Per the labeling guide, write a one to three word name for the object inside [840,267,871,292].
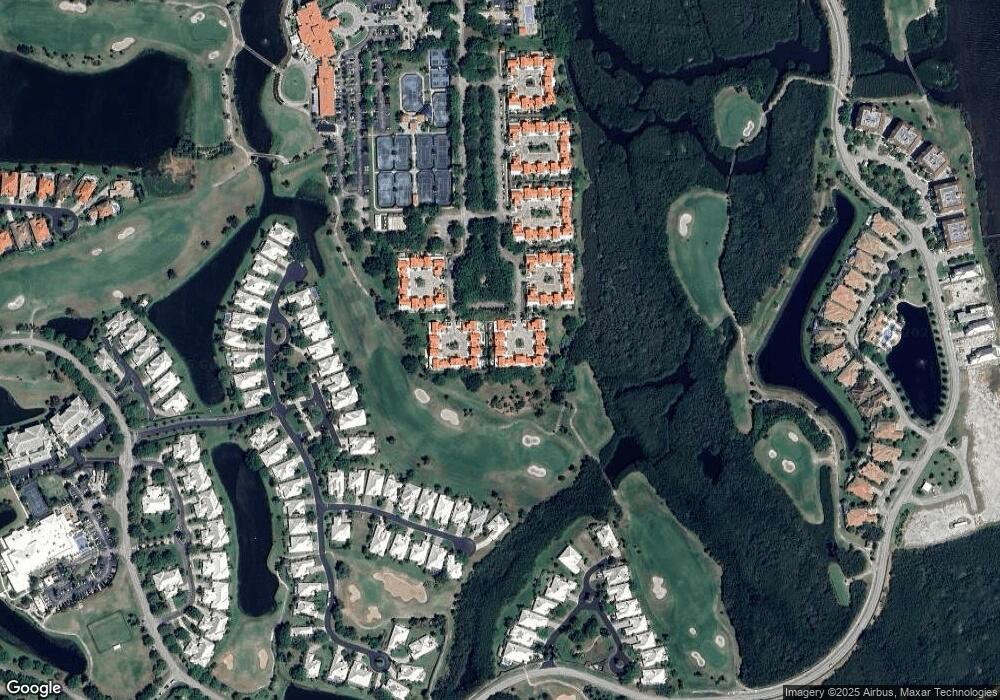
house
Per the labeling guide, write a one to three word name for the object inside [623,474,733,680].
golf course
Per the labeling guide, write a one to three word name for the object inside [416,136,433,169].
tennis court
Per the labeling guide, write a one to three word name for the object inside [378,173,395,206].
tennis court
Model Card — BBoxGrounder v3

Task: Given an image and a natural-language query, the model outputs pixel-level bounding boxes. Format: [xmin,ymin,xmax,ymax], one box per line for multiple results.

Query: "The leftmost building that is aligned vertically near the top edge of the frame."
[293,2,342,118]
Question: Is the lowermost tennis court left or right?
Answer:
left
